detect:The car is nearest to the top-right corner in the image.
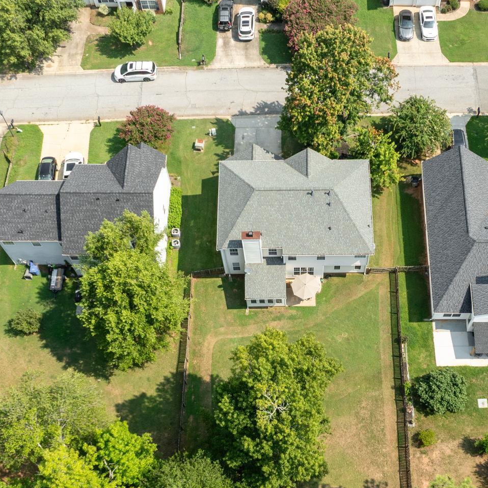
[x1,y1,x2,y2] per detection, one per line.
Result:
[419,6,440,42]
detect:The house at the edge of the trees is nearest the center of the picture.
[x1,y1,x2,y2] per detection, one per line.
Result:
[215,144,375,315]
